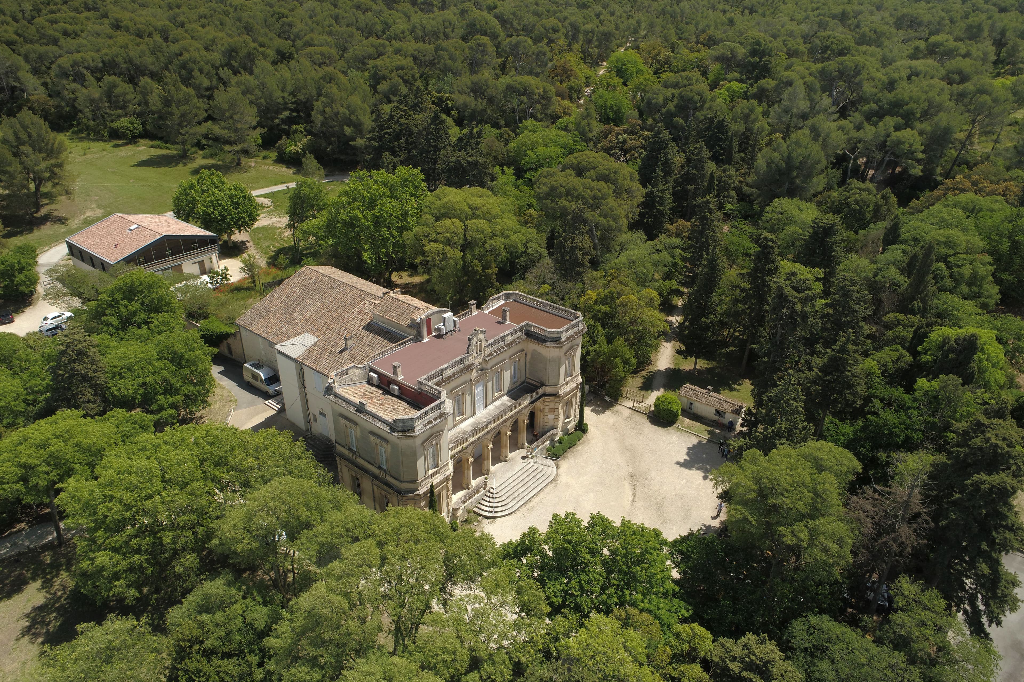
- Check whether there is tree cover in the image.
Yes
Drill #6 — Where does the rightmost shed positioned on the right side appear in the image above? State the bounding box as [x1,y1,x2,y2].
[677,380,753,430]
